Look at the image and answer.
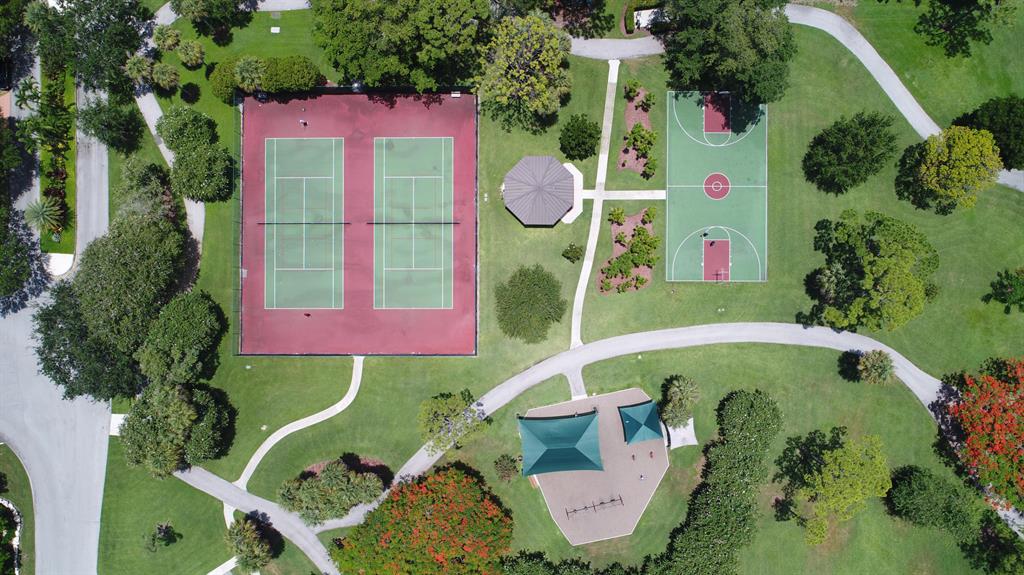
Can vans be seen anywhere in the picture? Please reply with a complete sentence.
No, this view has no van in it.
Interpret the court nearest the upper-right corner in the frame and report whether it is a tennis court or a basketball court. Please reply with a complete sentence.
What you see as the court nearest the upper-right corner is a basketball court.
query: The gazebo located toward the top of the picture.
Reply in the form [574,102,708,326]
[504,156,583,224]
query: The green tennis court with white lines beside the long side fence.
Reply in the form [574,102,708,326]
[265,138,343,309]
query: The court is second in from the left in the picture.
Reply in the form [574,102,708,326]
[374,138,453,309]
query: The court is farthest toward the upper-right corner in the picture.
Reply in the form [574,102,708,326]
[667,91,767,282]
